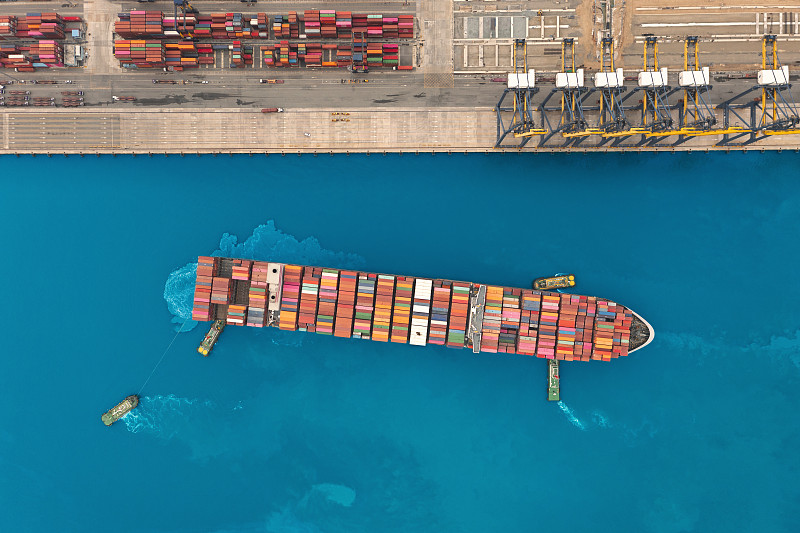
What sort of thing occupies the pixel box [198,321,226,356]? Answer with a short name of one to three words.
boat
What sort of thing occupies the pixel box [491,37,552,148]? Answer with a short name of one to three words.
container crane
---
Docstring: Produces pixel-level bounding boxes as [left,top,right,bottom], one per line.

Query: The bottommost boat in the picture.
[102,393,140,425]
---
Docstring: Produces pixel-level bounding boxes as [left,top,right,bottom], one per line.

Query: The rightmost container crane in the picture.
[709,36,800,148]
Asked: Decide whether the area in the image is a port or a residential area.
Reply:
port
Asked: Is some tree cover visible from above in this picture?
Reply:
No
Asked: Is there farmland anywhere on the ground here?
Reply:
No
